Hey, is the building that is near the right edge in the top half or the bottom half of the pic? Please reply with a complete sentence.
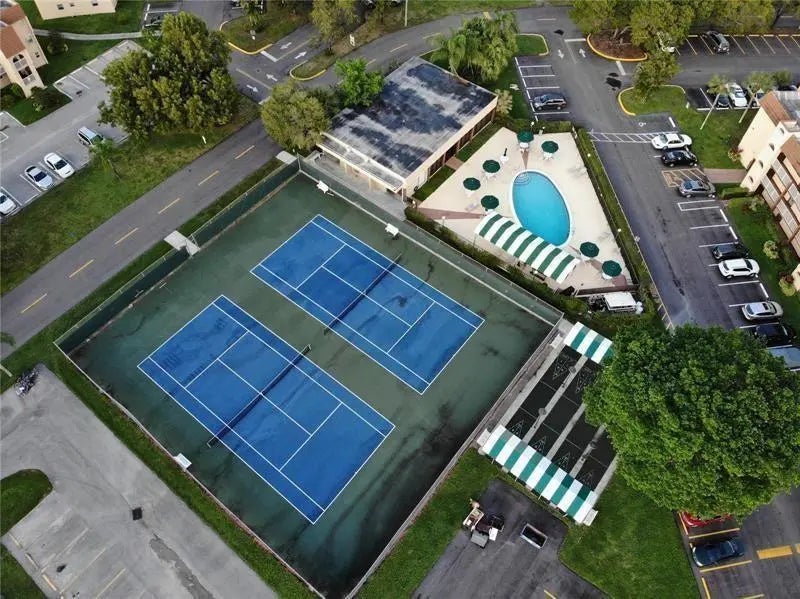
The building that is near the right edge sits in the top half of the picture.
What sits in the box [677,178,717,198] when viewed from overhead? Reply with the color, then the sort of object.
gray car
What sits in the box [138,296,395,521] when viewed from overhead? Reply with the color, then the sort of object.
blue tennis court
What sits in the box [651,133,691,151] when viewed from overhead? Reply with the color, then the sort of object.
white car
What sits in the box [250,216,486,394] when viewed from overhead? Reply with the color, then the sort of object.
blue tennis court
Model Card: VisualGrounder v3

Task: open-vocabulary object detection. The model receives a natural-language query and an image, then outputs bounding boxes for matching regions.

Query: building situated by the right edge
[734,86,800,249]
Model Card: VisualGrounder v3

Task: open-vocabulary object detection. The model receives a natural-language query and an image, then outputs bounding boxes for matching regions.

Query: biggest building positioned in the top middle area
[312,60,499,207]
